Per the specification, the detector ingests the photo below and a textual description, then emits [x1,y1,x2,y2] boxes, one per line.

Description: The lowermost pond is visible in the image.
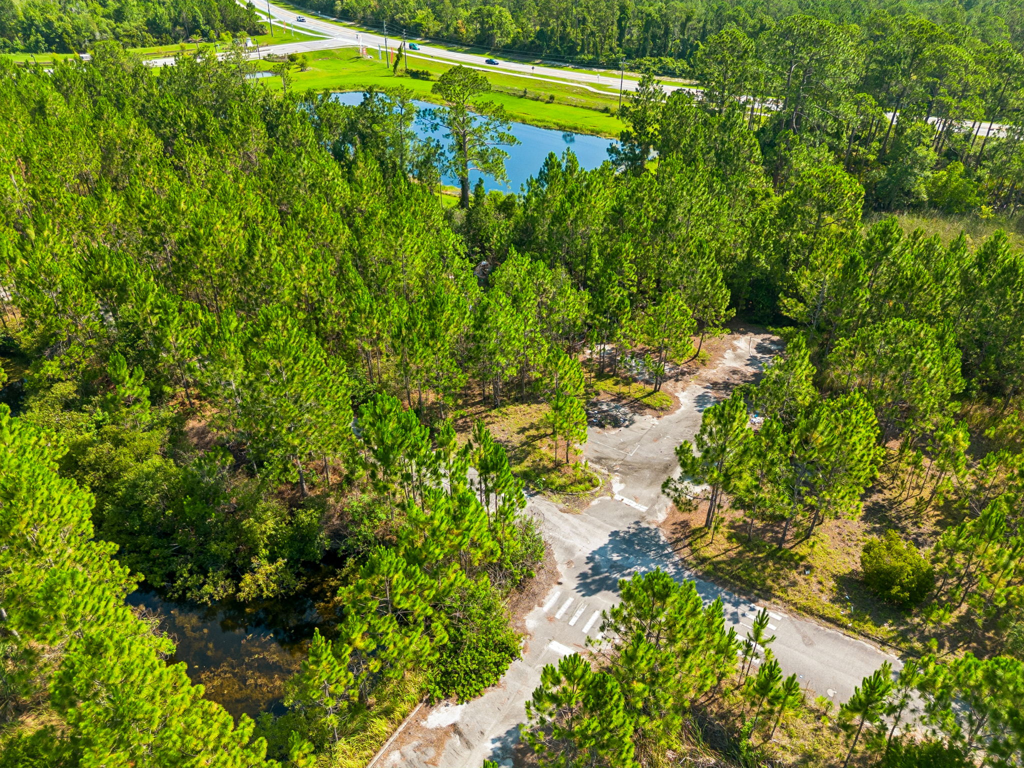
[316,92,649,191]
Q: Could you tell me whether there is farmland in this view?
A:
No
